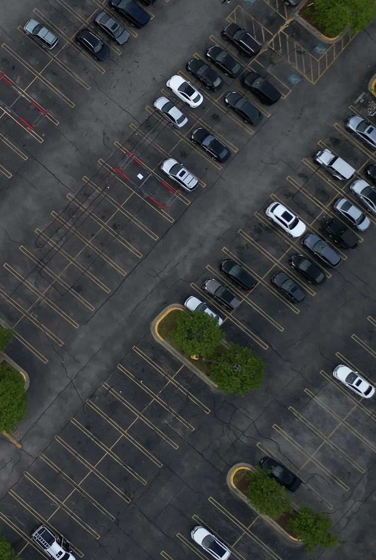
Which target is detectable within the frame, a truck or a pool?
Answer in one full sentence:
The image shows a truck.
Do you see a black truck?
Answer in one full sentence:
Yes, there's a black truck down there.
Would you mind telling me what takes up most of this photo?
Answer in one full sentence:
The scene is dominated by paved ground.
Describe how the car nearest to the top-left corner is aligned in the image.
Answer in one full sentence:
In this picture, the car nearest to the top-left corner is oriented at an angle.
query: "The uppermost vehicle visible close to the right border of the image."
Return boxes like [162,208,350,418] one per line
[345,117,376,150]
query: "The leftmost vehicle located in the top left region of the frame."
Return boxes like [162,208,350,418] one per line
[22,18,61,51]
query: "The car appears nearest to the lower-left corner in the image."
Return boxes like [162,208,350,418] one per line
[32,527,75,560]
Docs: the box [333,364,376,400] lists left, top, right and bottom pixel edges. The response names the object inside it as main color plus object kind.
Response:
white car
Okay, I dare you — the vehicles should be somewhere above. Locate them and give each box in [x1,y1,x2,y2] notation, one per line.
[165,75,206,109]
[185,58,225,93]
[199,274,246,313]
[191,128,232,163]
[151,96,191,130]
[219,257,259,293]
[190,526,231,560]
[204,45,246,79]
[314,147,358,182]
[159,158,200,192]
[75,26,114,62]
[22,18,61,51]
[93,9,131,45]
[267,270,308,305]
[300,234,343,269]
[332,195,371,231]
[364,162,376,182]
[182,293,224,319]
[345,117,376,150]
[288,252,330,288]
[350,182,376,214]
[333,364,376,400]
[239,69,285,107]
[260,456,301,494]
[32,527,75,560]
[317,216,365,253]
[223,92,265,127]
[221,23,262,58]
[110,0,151,28]
[266,203,305,238]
